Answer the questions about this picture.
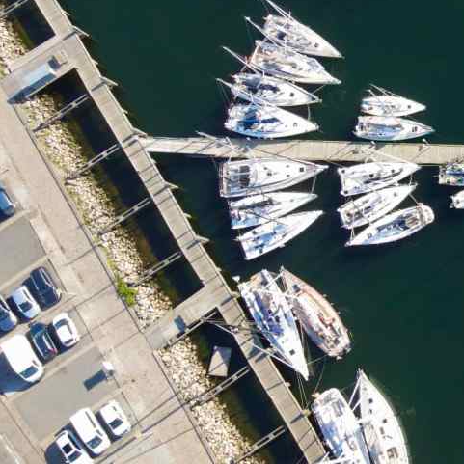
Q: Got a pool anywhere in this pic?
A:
No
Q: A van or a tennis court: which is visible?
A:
van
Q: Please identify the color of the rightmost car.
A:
white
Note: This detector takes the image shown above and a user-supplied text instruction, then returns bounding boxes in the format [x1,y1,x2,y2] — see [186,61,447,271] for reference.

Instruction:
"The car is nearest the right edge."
[102,400,131,437]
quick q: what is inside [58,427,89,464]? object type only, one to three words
car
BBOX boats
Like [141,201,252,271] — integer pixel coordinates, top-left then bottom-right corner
[243,270,350,355]
[210,137,328,196]
[358,84,427,118]
[259,0,343,57]
[210,76,318,139]
[450,191,464,210]
[312,369,414,464]
[212,270,308,381]
[337,209,436,248]
[220,46,320,110]
[303,59,328,76]
[338,177,418,228]
[233,209,323,260]
[237,13,341,86]
[222,180,319,226]
[354,99,435,143]
[436,160,464,188]
[339,148,422,195]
